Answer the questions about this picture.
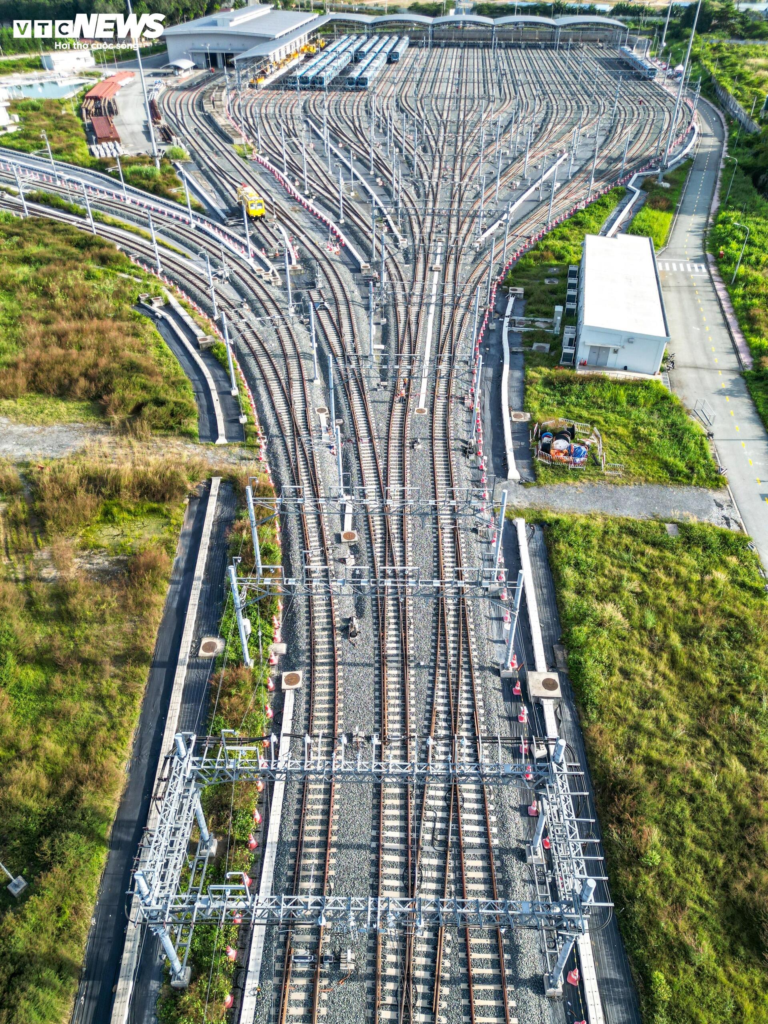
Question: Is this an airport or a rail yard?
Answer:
rail yard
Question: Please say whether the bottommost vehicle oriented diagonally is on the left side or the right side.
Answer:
left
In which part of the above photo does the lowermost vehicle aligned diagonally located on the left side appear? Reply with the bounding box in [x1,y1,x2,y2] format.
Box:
[228,173,265,219]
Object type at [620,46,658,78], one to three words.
train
